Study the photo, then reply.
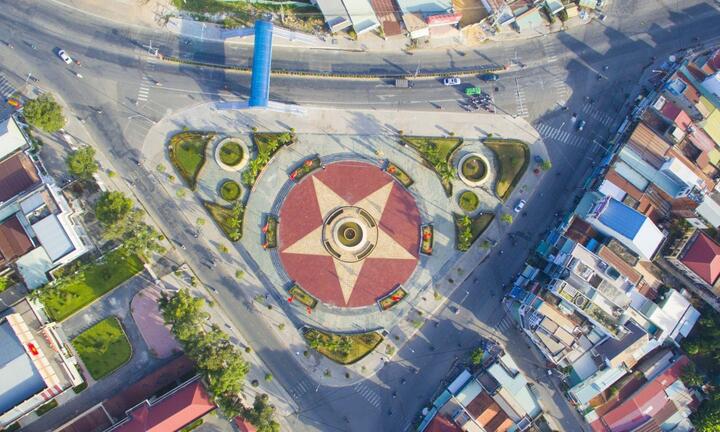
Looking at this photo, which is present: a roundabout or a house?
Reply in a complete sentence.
There is a house in the scene.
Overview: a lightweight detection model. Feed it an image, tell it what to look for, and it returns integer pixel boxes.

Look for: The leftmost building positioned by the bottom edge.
[0,311,68,426]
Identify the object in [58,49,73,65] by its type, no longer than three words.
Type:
car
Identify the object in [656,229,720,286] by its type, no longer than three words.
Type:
house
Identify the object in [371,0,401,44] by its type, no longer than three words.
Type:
house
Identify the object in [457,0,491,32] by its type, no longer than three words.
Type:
building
